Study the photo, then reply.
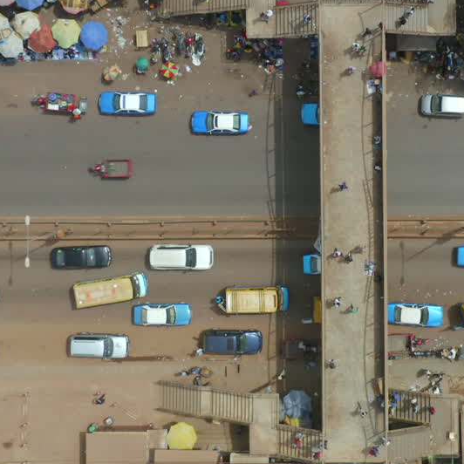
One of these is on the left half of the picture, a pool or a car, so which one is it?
car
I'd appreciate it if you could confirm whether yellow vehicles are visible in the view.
Yes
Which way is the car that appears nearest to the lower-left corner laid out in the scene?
horizontally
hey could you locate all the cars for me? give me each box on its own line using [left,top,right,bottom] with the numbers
[386,302,445,330]
[454,245,464,268]
[191,109,251,137]
[97,88,158,118]
[65,331,130,362]
[50,243,112,271]
[418,91,464,119]
[202,328,262,358]
[131,301,192,329]
[148,243,213,273]
[301,103,320,126]
[302,253,320,276]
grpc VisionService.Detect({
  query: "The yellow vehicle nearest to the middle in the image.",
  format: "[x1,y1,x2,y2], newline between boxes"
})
[220,285,289,316]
